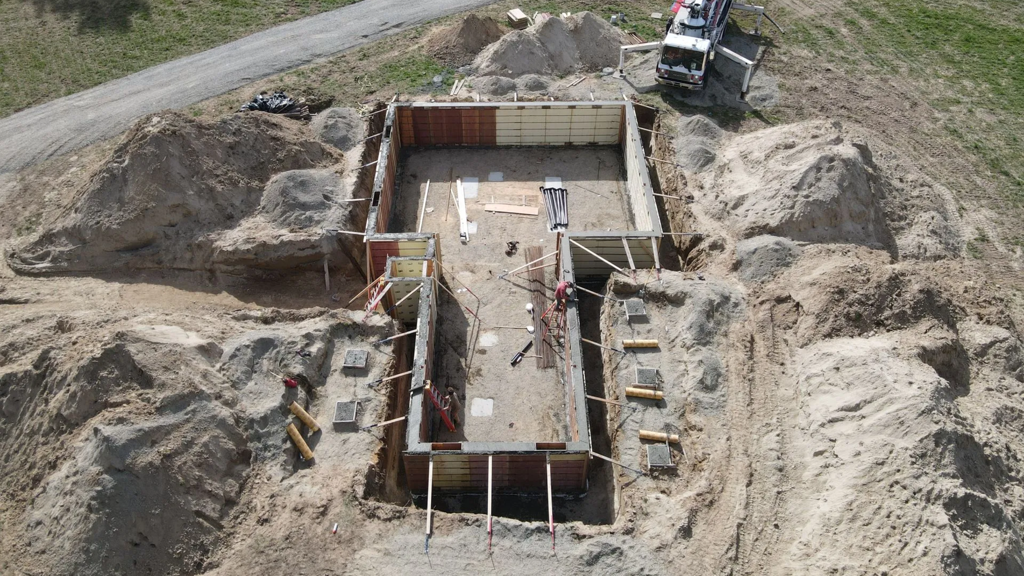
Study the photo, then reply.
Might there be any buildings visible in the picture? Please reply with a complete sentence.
No, no building is visible in the view.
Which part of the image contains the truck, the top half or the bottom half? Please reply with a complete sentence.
The top half of the photo is where the truck is.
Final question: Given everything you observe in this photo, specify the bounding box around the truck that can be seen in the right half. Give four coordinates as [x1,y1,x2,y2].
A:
[612,0,764,105]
